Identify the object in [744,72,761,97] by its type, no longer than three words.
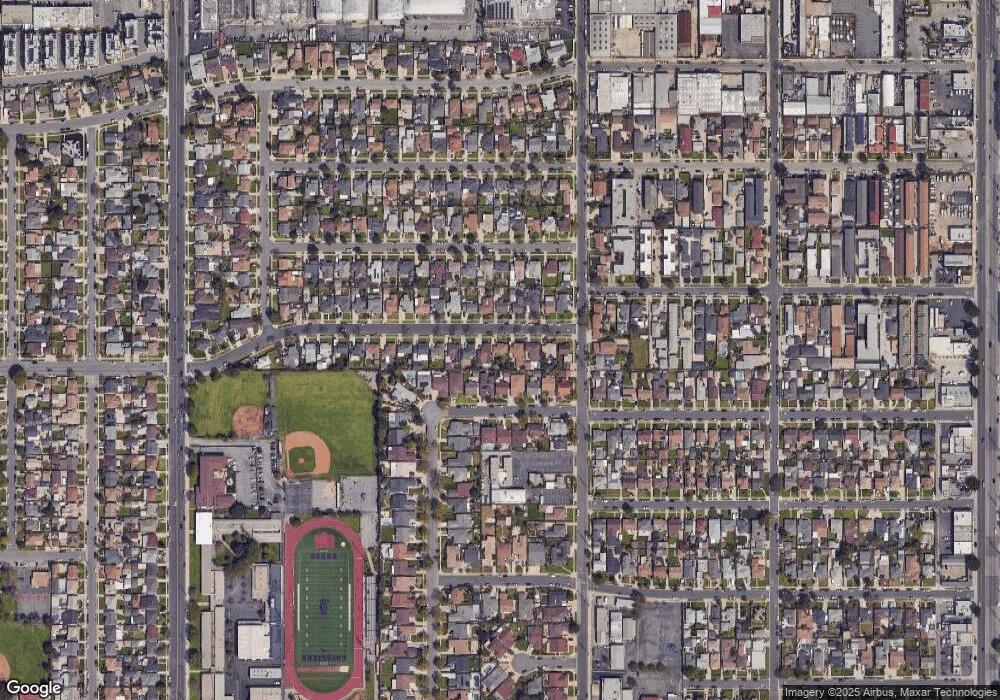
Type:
building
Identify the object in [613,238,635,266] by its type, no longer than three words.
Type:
building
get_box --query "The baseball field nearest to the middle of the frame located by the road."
[277,372,377,479]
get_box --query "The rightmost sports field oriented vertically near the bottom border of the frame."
[295,528,354,691]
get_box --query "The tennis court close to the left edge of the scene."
[17,577,50,618]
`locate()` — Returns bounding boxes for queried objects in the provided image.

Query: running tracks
[285,517,364,700]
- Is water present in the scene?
No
